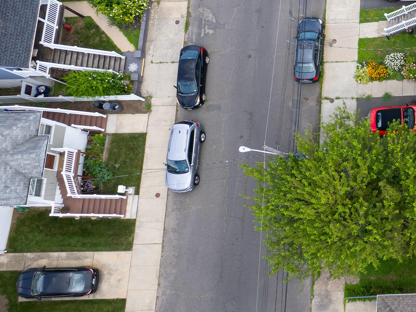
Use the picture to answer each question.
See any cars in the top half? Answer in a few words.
Yes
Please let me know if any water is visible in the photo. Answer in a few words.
No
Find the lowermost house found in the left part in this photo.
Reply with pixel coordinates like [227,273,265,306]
[0,105,126,253]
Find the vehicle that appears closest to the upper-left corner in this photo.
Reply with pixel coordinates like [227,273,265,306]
[173,46,213,113]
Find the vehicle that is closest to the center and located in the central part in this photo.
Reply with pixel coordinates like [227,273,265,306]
[164,124,207,195]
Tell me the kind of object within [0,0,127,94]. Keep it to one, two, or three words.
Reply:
house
